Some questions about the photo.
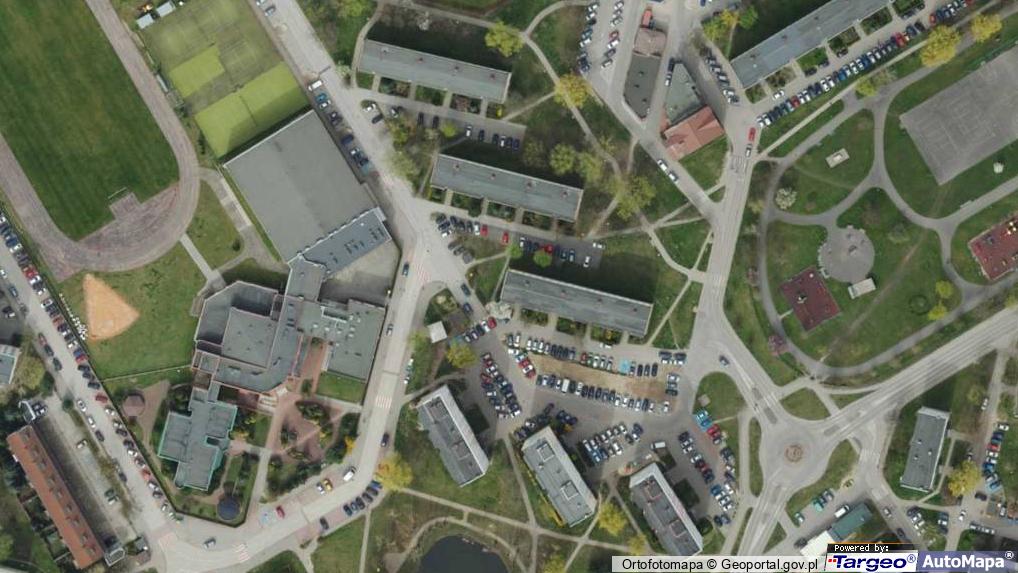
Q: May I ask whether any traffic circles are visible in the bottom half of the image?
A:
Yes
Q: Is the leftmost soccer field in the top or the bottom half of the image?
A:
top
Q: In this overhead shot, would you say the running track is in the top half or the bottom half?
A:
top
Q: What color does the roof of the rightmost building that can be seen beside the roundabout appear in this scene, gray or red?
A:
gray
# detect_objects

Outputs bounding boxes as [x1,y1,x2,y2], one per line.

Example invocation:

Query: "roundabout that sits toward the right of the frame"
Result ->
[743,370,900,530]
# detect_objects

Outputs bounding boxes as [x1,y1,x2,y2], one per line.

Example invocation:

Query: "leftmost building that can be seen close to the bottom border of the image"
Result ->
[5,424,109,570]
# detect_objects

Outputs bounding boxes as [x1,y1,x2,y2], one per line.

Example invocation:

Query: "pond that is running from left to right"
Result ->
[419,535,507,573]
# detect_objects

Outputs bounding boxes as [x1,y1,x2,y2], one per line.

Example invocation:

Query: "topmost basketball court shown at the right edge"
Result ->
[900,46,1018,185]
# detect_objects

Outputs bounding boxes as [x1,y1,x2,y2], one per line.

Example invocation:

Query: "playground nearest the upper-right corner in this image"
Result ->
[967,213,1018,282]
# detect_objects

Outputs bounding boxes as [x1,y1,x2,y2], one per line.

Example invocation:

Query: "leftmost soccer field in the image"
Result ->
[0,0,180,241]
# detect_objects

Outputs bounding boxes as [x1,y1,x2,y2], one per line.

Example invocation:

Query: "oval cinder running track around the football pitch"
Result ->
[0,0,200,283]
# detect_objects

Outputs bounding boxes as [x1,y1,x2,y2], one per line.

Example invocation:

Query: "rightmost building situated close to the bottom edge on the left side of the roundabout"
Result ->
[631,457,703,562]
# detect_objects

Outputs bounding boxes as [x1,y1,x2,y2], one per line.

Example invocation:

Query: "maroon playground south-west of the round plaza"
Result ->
[780,265,840,332]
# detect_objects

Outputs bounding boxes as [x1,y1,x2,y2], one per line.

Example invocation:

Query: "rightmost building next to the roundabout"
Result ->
[900,404,951,492]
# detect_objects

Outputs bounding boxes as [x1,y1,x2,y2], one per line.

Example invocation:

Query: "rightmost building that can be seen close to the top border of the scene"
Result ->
[731,0,895,91]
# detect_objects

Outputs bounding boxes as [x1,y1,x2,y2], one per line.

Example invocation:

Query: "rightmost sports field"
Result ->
[138,0,311,158]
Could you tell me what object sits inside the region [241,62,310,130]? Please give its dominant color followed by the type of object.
green tennis court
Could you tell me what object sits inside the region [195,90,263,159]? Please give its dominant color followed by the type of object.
green tennis court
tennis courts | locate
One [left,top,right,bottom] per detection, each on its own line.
[169,46,225,97]
[146,3,216,70]
[219,20,281,84]
[195,90,263,159]
[241,62,310,130]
